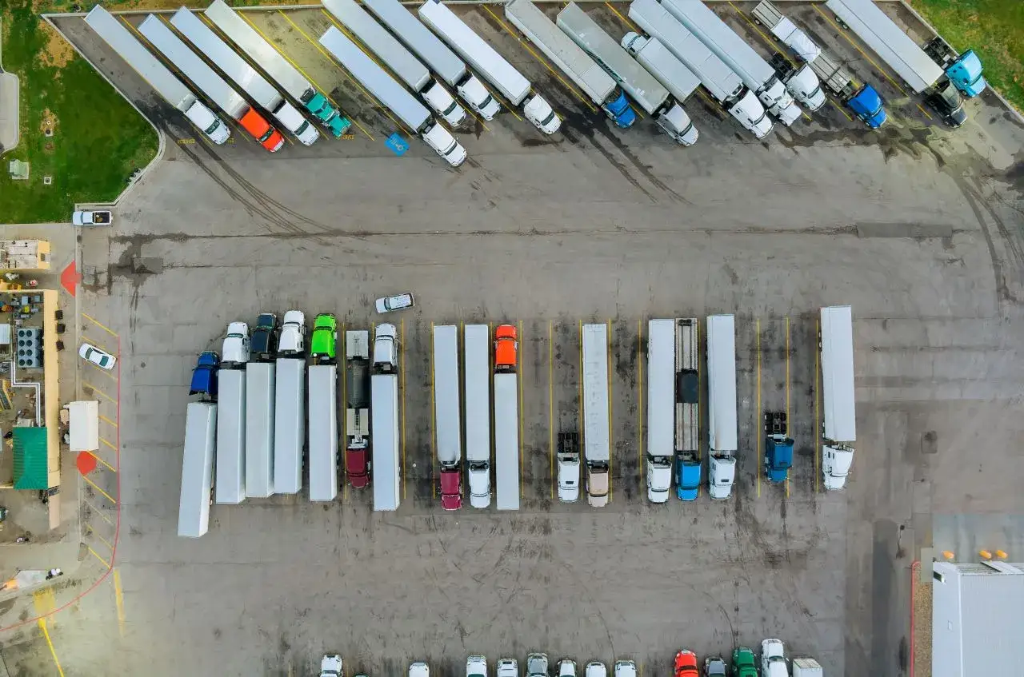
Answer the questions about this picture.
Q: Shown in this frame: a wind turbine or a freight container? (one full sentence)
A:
Visible in the photo is a freight container.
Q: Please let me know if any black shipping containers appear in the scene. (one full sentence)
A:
No, I can see no black shipping container in this picture.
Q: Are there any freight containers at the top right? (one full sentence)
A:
No, no freight container is visible at the top right.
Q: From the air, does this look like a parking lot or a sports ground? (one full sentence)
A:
What you see here is a parking lot.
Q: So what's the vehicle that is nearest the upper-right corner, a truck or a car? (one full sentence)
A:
The vehicle that is nearest the upper-right corner is a truck.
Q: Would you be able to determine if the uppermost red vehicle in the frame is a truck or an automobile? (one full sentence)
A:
It looks like the uppermost red vehicle is a truck.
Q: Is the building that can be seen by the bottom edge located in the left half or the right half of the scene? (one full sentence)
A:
It is on the right.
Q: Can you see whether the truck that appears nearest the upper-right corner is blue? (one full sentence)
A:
Yes, the truck that appears nearest the upper-right corner appears blue.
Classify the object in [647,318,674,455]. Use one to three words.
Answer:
trailer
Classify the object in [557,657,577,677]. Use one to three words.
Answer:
vehicle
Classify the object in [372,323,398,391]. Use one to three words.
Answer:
truck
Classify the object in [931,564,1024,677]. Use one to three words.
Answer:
building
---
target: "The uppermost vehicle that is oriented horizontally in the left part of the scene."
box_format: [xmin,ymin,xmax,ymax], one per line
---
[70,207,112,225]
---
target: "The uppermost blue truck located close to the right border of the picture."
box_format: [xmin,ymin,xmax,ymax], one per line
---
[925,45,989,100]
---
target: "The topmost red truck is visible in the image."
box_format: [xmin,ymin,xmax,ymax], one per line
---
[236,89,284,152]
